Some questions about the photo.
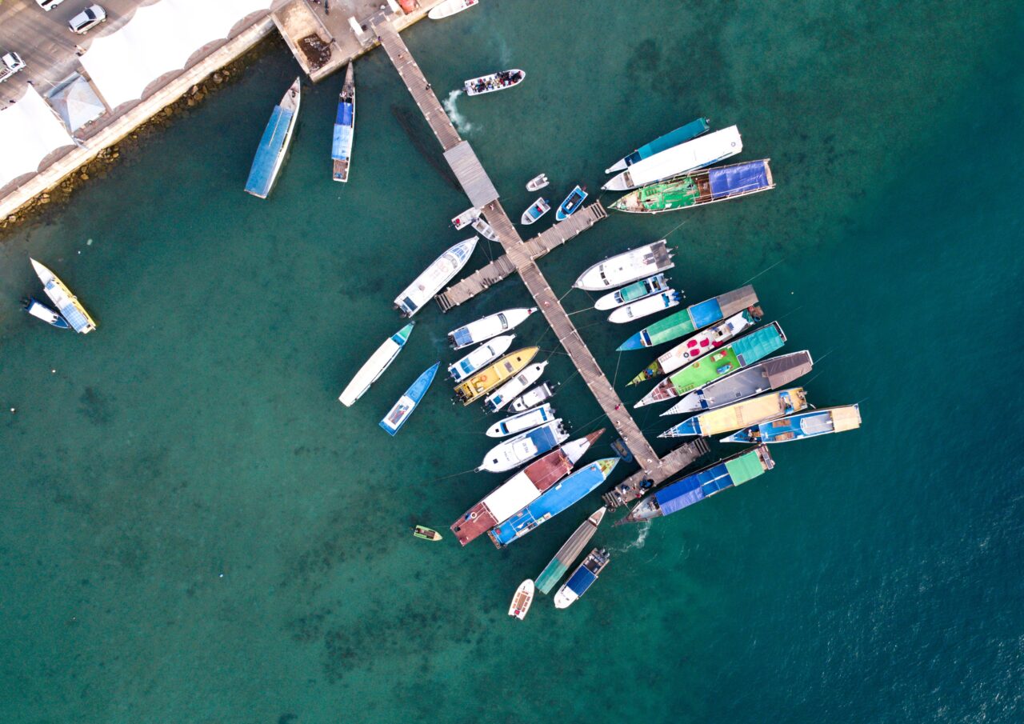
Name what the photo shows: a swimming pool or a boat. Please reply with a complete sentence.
Of the two, only a boat appears.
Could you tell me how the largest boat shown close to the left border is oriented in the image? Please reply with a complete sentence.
The largest boat shown close to the left border has been laid out on a diagonal relative to the frame.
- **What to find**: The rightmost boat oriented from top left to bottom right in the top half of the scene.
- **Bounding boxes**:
[472,217,498,242]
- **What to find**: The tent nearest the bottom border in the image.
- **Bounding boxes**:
[0,85,82,197]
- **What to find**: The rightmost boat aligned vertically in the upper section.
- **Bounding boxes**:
[331,58,355,184]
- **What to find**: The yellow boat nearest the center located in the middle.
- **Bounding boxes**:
[451,346,539,404]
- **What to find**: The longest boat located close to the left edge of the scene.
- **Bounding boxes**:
[30,258,100,333]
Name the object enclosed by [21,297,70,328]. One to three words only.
boat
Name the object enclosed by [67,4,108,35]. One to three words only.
car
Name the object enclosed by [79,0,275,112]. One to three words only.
tent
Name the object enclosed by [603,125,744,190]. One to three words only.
boat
